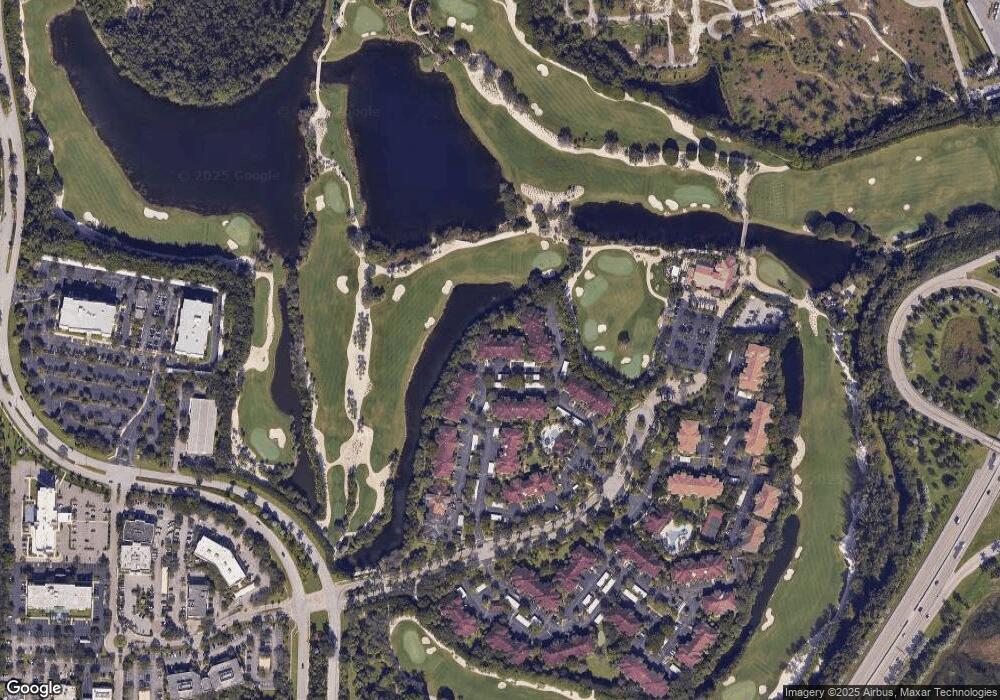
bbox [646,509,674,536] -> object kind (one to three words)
building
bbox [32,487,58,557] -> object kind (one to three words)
building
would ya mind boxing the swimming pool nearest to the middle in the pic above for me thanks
[540,424,562,455]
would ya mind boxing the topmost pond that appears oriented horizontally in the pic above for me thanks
[630,66,734,119]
